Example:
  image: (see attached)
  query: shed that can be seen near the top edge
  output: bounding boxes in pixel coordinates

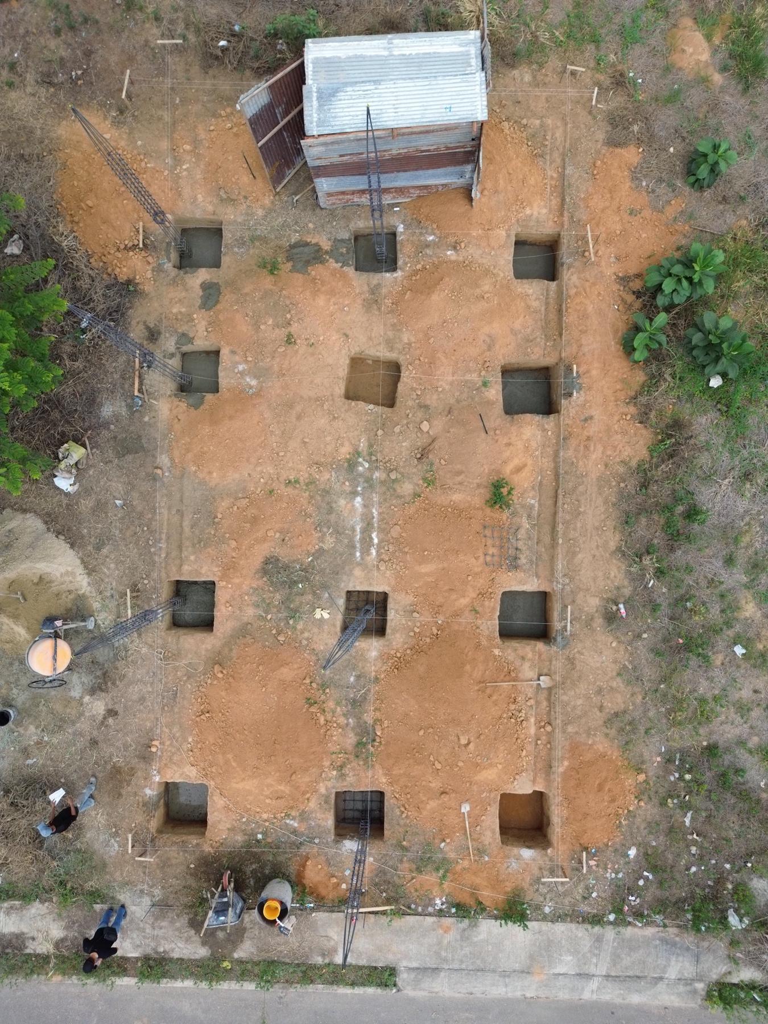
[242,30,496,207]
